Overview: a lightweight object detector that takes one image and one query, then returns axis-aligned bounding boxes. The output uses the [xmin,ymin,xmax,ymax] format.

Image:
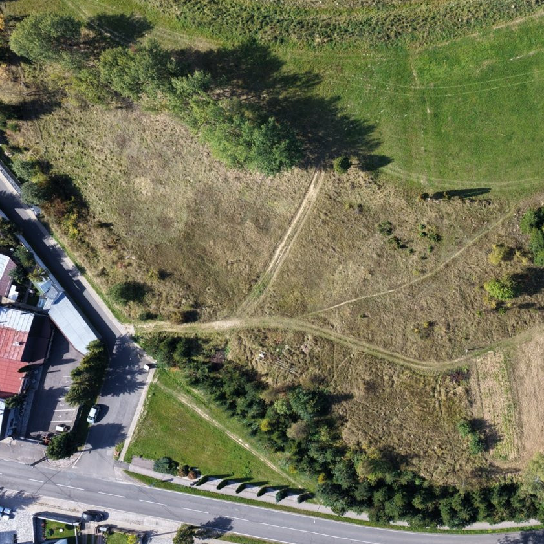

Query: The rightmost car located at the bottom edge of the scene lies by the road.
[81,511,103,523]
